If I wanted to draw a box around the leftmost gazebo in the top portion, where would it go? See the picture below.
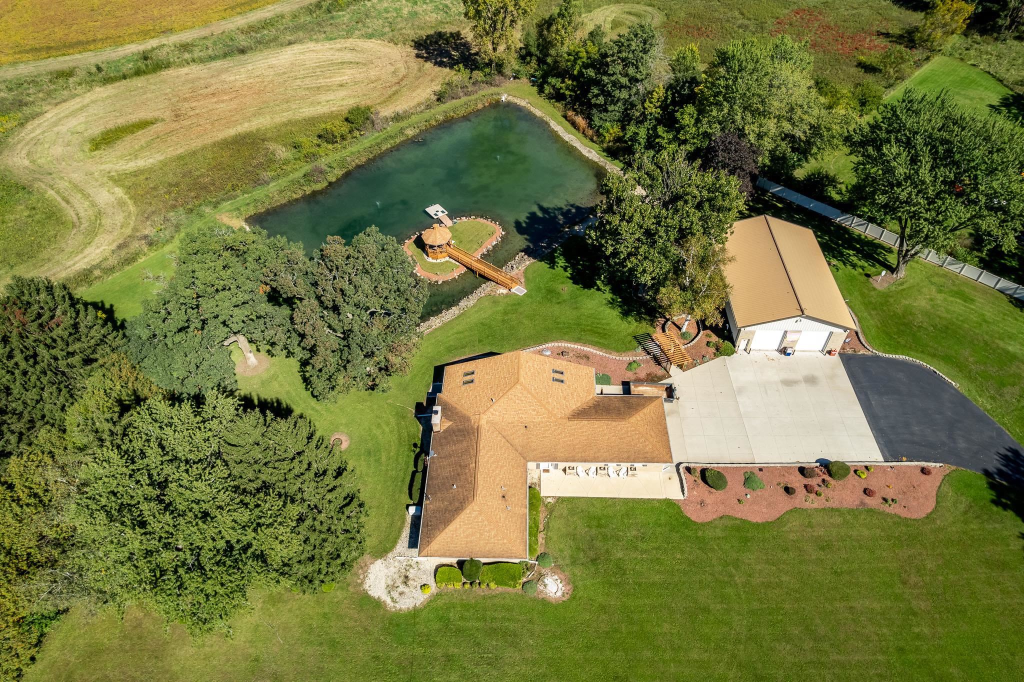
[421,225,453,259]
